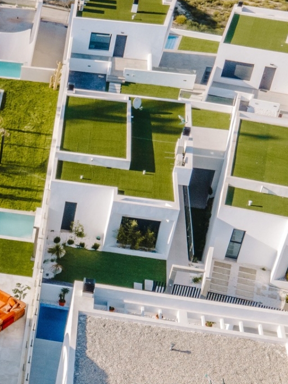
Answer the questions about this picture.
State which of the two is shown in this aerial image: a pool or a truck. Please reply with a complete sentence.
Looking from above, you can make out a pool.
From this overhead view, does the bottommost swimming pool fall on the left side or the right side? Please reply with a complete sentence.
The bottommost swimming pool is on the left side of the image.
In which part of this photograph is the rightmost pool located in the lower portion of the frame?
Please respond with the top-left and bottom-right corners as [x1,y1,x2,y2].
[32,304,66,342]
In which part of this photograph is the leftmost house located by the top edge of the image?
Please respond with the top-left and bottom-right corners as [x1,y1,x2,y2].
[69,0,166,58]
